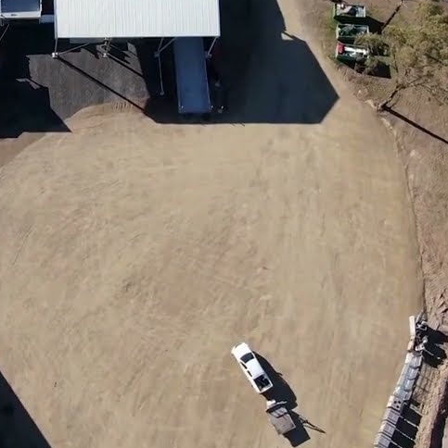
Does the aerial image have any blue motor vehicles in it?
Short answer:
No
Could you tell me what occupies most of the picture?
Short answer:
paved ground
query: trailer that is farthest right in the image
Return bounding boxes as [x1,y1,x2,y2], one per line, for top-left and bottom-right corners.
[267,396,303,434]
